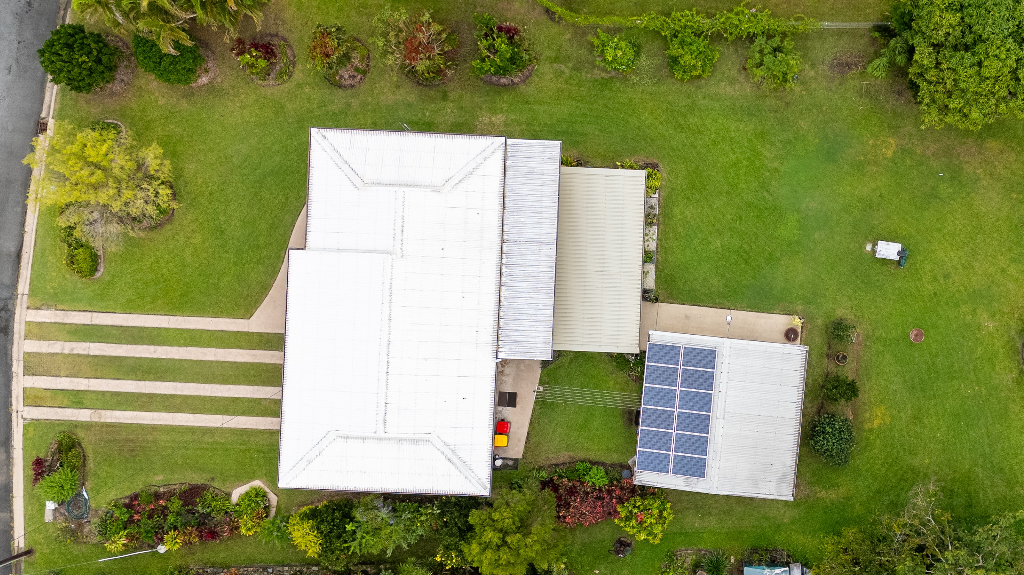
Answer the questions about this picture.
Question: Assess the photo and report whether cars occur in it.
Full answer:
No, the photo shows no car.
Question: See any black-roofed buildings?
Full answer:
No, no black-roofed building can be seen from above.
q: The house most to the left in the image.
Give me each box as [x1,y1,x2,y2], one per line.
[276,128,509,498]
